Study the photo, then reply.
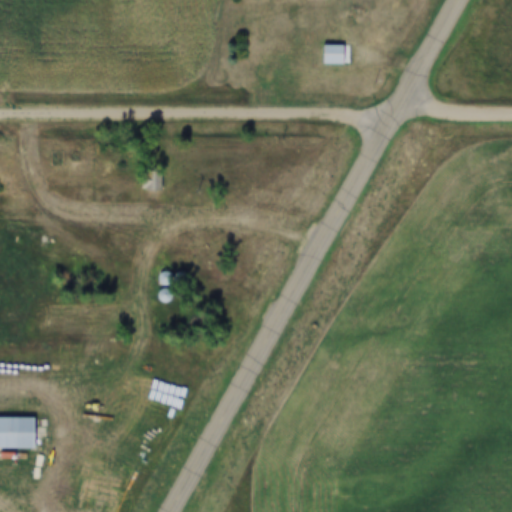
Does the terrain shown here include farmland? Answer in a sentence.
Yes, the picture does contain farmland.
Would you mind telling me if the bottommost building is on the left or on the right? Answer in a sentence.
It is on the left.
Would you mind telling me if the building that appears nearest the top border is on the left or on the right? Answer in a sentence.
It is on the right.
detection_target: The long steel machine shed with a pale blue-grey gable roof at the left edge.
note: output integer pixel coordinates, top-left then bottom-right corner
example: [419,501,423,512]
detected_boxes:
[0,417,36,450]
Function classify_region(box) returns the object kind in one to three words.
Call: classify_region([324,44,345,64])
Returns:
building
